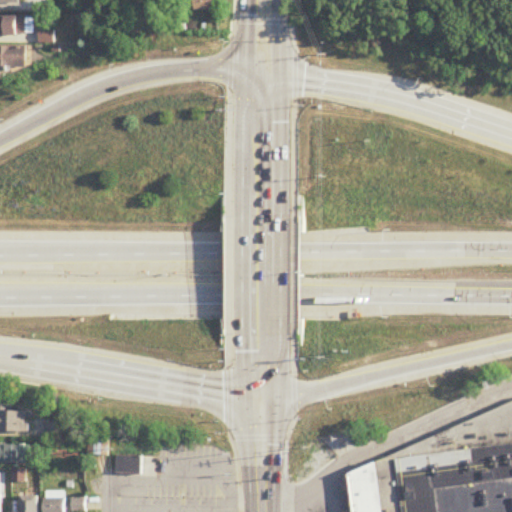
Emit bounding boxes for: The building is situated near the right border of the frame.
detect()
[395,443,512,512]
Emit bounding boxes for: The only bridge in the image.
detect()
[221,192,305,350]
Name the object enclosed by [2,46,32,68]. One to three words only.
house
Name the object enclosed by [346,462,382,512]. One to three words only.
building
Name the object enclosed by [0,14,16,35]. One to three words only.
house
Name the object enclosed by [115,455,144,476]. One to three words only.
building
